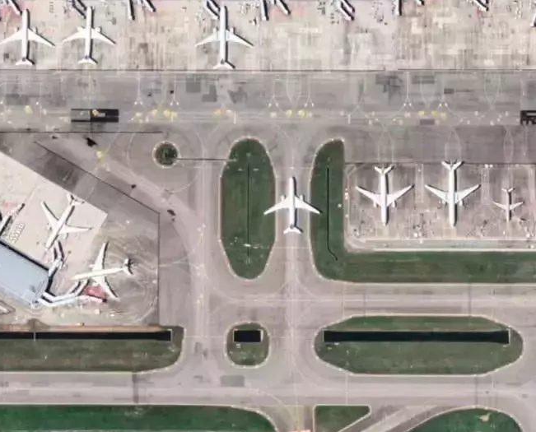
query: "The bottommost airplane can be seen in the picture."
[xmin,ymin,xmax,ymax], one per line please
[73,241,130,299]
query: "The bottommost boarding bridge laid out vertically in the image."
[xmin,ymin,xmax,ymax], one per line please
[49,240,62,274]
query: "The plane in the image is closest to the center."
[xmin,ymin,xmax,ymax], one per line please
[264,177,320,233]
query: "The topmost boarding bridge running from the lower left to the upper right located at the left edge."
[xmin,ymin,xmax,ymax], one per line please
[0,204,26,239]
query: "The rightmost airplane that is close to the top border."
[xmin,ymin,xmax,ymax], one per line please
[194,5,251,69]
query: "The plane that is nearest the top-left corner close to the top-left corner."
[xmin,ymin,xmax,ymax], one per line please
[0,10,53,66]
